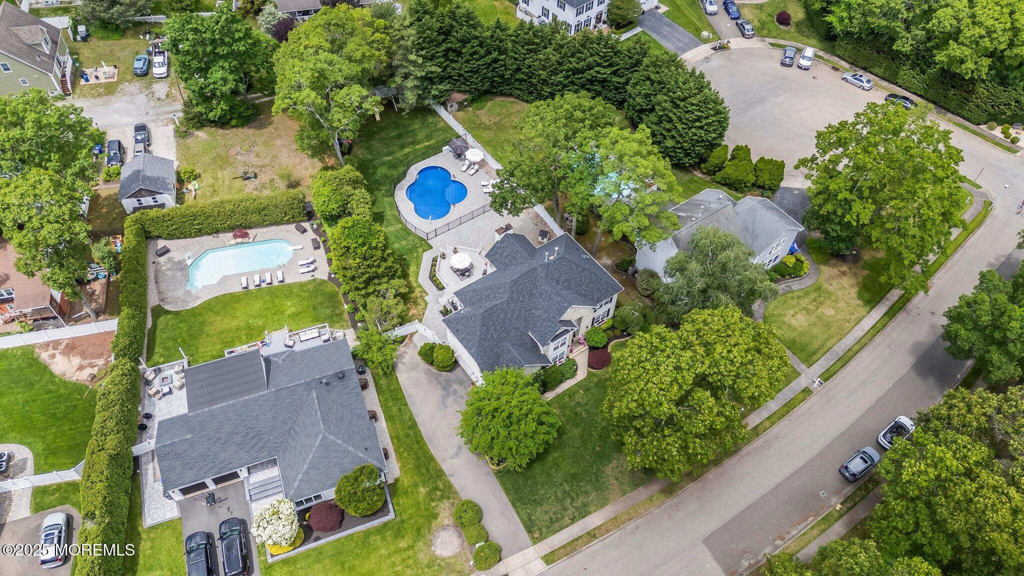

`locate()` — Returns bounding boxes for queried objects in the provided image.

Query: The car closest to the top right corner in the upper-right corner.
[884,96,914,110]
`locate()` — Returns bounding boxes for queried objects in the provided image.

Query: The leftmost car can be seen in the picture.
[37,512,70,571]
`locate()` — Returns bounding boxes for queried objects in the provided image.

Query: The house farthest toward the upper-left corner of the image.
[0,1,75,97]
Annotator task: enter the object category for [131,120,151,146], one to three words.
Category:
vehicle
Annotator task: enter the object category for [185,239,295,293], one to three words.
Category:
swimming pool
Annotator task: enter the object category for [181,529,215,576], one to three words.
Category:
car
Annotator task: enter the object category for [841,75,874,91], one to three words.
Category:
car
